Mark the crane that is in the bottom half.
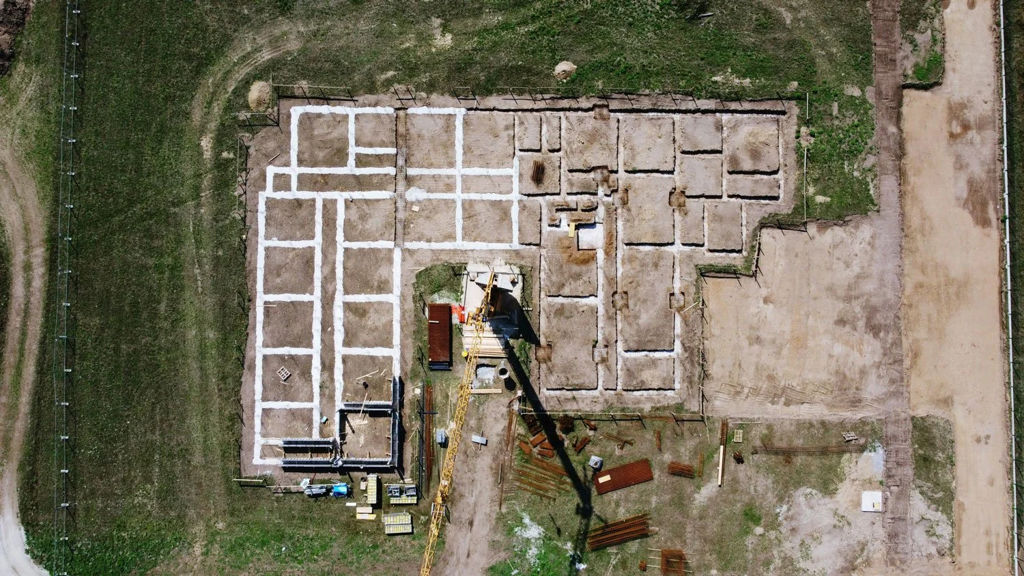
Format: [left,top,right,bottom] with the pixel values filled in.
[417,268,514,576]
